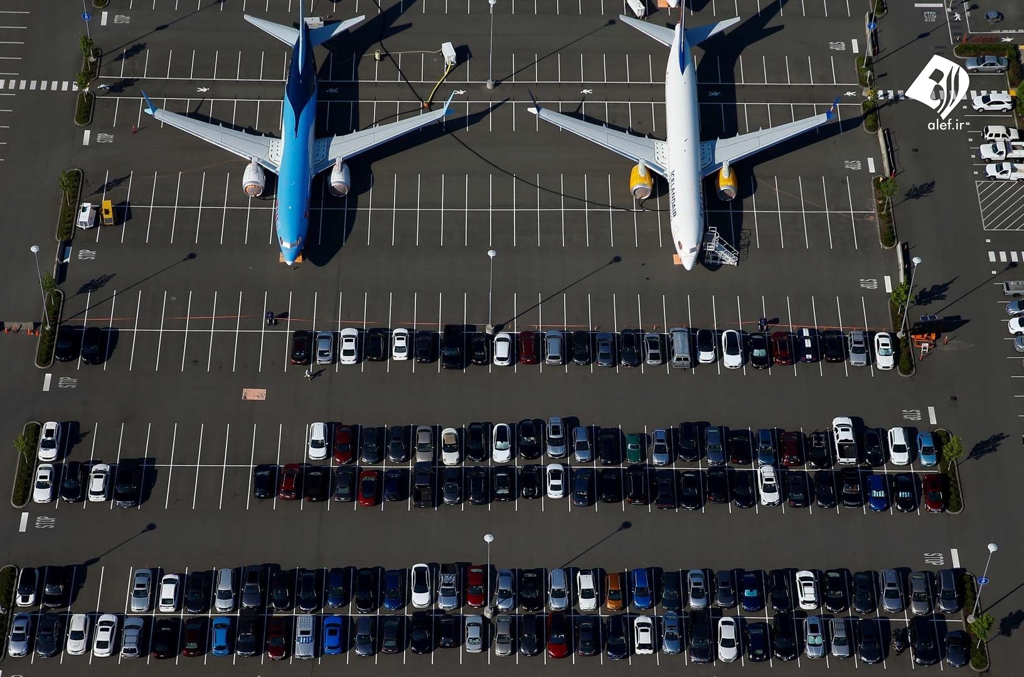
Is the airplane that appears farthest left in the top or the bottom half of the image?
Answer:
top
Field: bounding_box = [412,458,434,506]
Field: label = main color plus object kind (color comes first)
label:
black truck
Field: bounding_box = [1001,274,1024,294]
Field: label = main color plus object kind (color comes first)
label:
gray vehicle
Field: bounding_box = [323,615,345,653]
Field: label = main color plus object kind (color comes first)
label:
blue car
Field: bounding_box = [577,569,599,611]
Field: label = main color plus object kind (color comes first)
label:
white car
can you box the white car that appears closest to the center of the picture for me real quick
[492,333,511,364]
